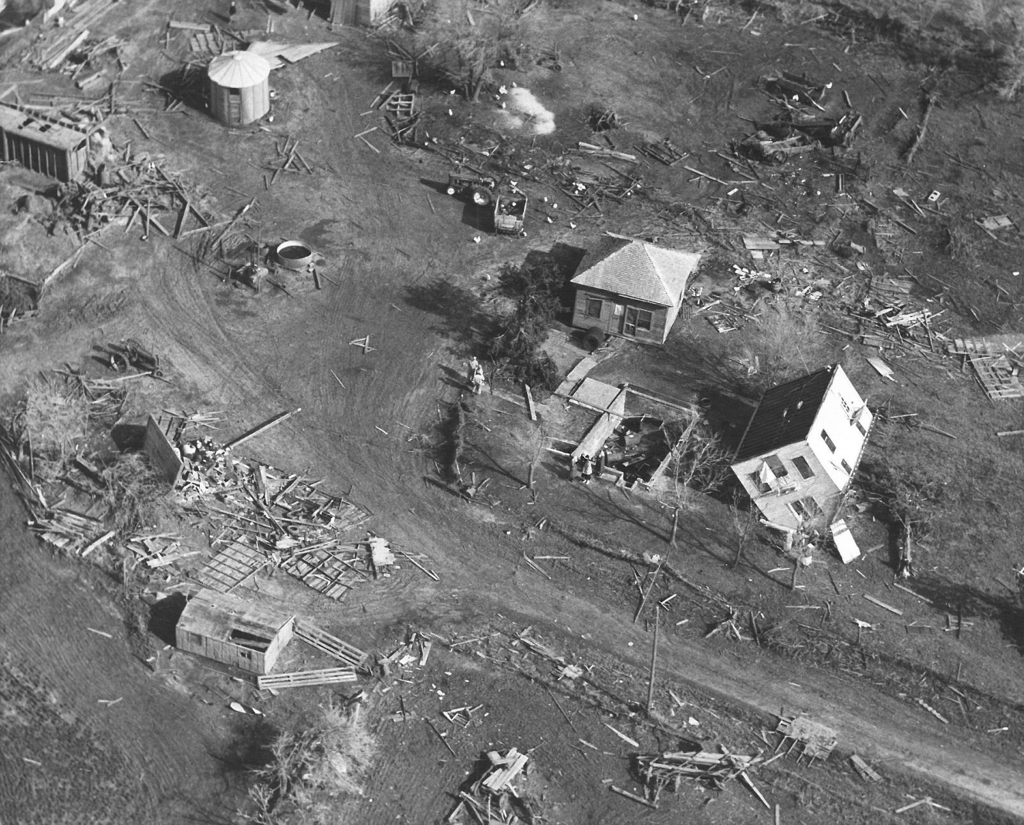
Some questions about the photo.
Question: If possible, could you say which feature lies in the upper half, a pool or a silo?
silo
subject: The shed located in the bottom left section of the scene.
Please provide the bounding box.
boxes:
[170,580,295,679]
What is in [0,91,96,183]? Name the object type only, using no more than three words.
shed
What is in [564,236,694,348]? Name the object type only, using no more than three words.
house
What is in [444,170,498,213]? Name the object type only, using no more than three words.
work vehicle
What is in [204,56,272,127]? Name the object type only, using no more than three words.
silo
